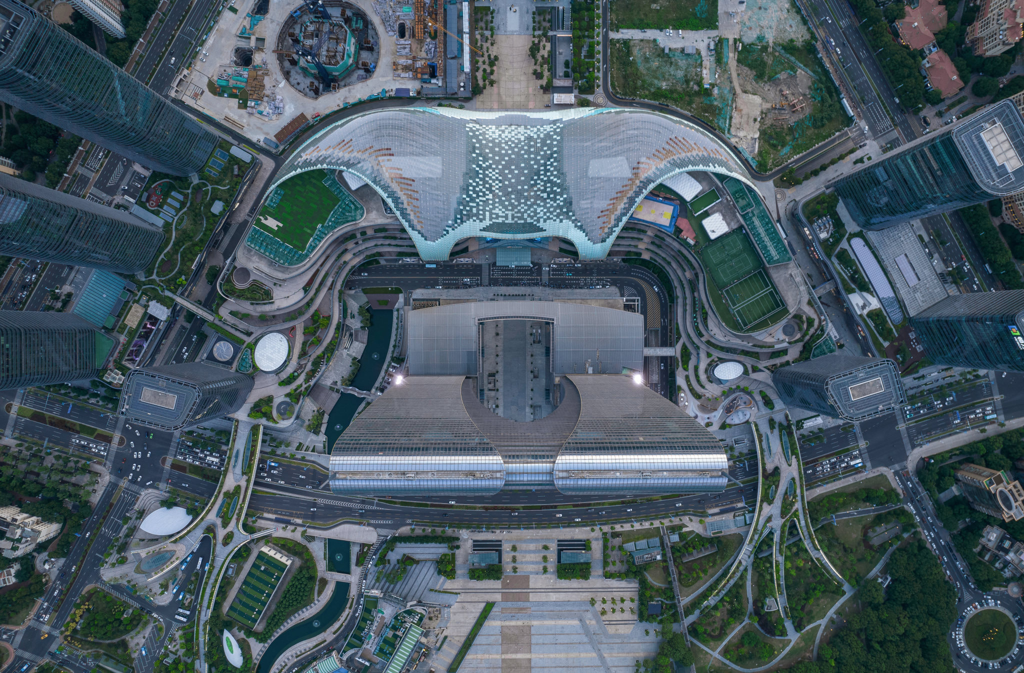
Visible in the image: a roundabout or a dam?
roundabout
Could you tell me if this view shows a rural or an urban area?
urban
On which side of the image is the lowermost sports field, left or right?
left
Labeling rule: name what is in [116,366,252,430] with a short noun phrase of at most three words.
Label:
building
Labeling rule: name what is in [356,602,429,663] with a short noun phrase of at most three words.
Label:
building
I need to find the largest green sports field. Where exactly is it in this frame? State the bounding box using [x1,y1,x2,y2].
[224,545,295,630]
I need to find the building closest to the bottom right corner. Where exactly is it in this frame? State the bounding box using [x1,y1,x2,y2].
[966,518,1024,573]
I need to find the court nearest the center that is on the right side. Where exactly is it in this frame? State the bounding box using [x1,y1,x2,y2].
[630,196,679,233]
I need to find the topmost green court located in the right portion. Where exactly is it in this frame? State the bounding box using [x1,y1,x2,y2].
[687,187,721,216]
